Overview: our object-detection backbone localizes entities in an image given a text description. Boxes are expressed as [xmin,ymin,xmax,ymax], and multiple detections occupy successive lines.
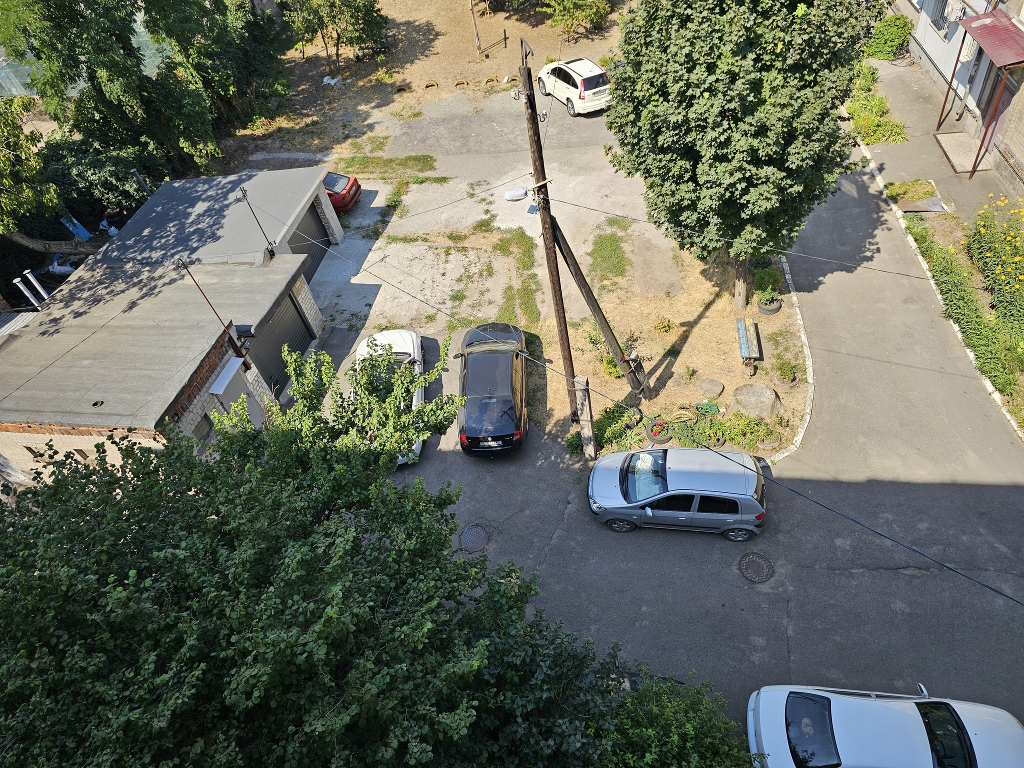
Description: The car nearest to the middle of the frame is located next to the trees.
[455,323,532,462]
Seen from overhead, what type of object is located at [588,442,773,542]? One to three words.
car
